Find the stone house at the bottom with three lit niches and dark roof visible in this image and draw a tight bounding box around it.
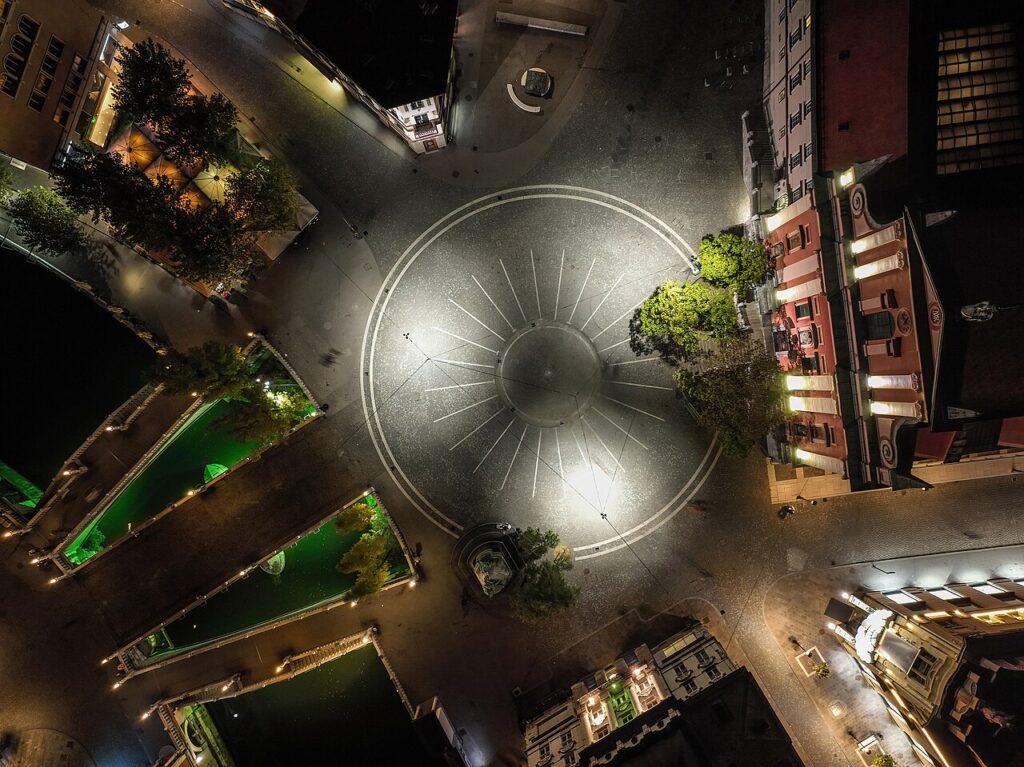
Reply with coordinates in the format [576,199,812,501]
[525,622,817,767]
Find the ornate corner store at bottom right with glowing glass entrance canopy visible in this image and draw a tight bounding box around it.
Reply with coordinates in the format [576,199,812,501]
[818,572,1024,767]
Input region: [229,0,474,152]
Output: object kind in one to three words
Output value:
house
